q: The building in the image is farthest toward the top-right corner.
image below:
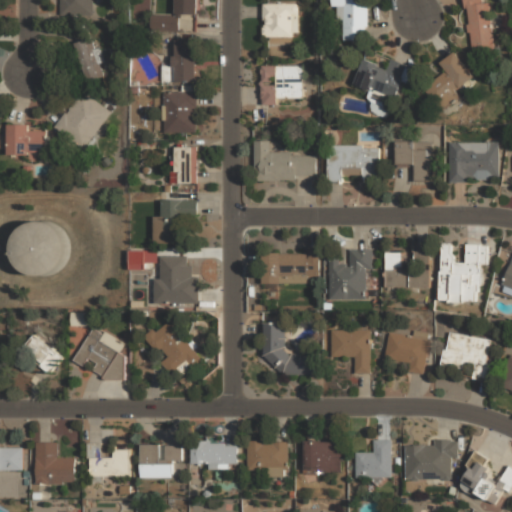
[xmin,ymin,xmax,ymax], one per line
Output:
[462,0,498,50]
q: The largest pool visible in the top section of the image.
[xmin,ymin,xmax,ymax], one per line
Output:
[342,96,370,115]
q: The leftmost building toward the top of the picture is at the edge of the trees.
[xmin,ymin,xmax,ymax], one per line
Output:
[6,124,48,162]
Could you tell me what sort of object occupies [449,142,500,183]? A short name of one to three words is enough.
house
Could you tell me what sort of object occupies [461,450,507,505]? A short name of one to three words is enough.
house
